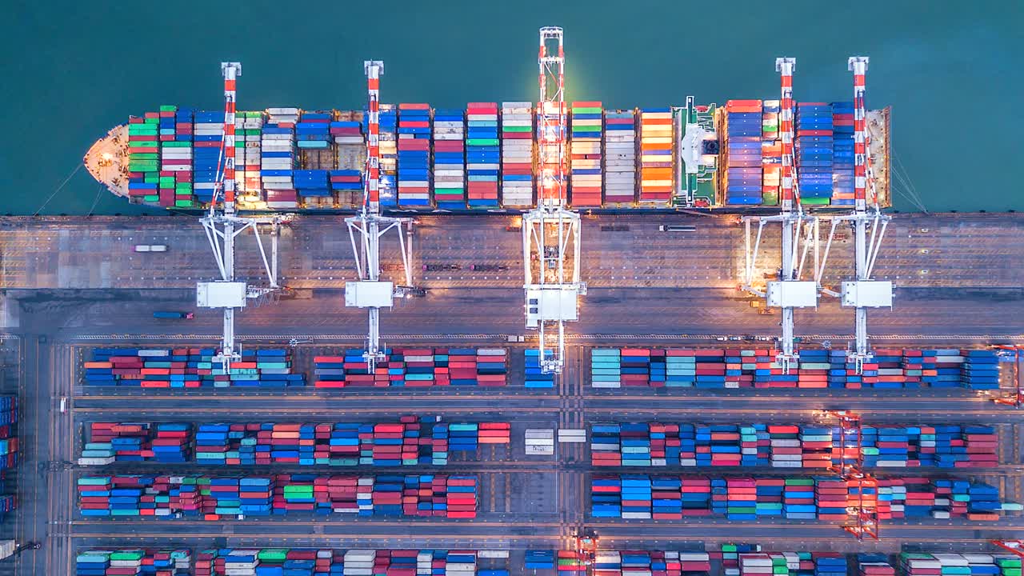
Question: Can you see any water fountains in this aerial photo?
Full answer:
No, the photo shows no water fountain.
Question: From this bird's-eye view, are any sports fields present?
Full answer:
No, the frame has no sports field in it.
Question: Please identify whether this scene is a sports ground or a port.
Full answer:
This looks like a port.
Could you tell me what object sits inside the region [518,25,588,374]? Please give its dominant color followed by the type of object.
white container crane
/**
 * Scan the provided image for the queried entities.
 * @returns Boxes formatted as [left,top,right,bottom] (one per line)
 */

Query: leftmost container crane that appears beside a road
[197,64,293,373]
